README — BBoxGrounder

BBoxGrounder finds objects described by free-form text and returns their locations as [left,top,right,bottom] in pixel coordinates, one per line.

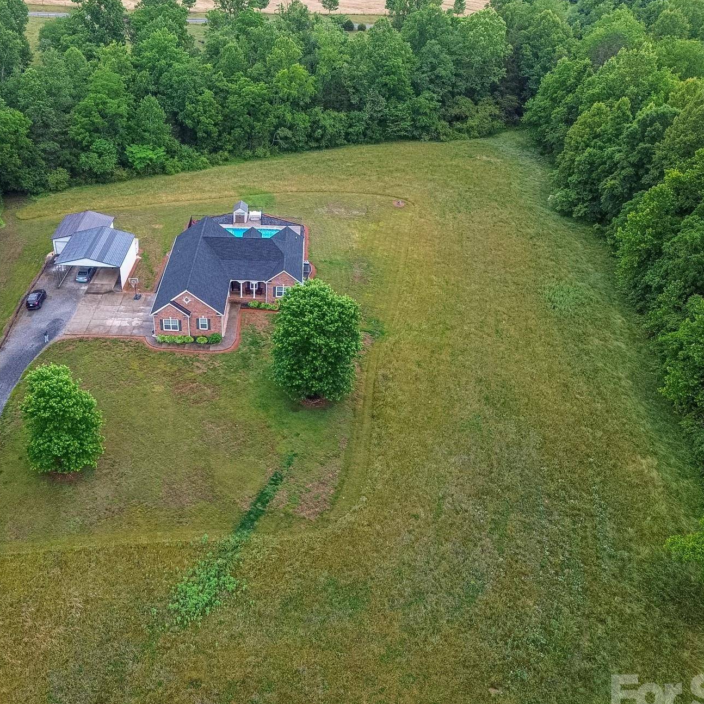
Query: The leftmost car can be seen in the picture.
[26,286,50,308]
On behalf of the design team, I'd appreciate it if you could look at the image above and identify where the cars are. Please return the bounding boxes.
[75,267,96,281]
[26,286,50,308]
